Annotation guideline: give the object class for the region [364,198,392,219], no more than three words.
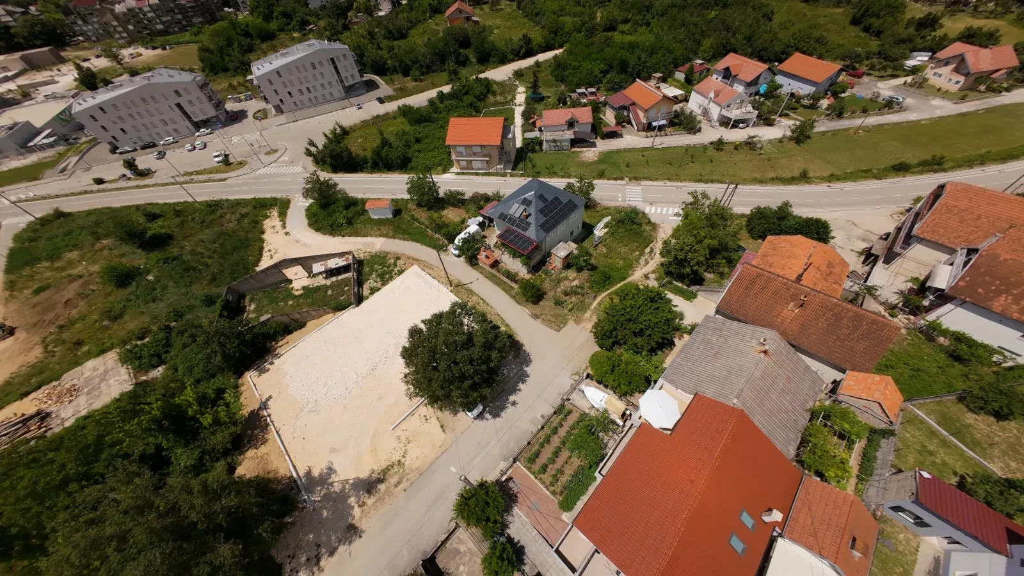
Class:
shed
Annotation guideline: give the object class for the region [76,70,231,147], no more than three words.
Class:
building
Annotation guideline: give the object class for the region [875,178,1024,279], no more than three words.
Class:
house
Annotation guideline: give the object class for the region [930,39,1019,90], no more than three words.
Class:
house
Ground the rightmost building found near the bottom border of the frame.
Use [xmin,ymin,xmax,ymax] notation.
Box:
[858,471,1024,576]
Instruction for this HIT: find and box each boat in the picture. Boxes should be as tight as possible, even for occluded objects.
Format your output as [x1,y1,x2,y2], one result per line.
[583,381,634,421]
